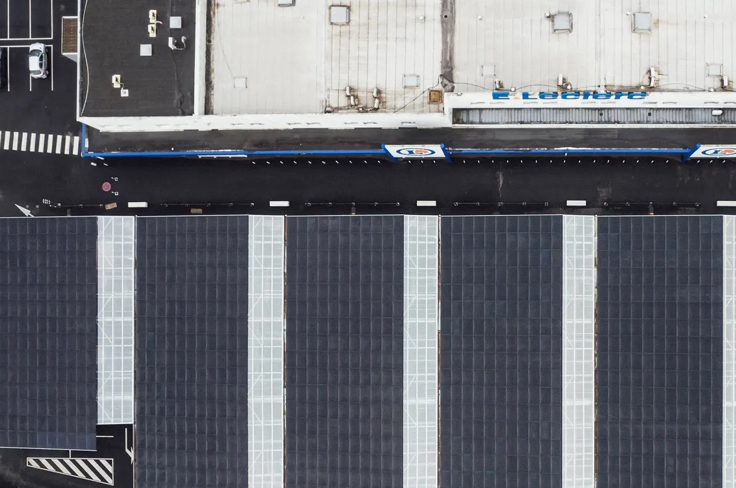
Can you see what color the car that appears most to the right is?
white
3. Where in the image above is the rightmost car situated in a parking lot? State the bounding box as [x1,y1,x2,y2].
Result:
[27,43,51,79]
